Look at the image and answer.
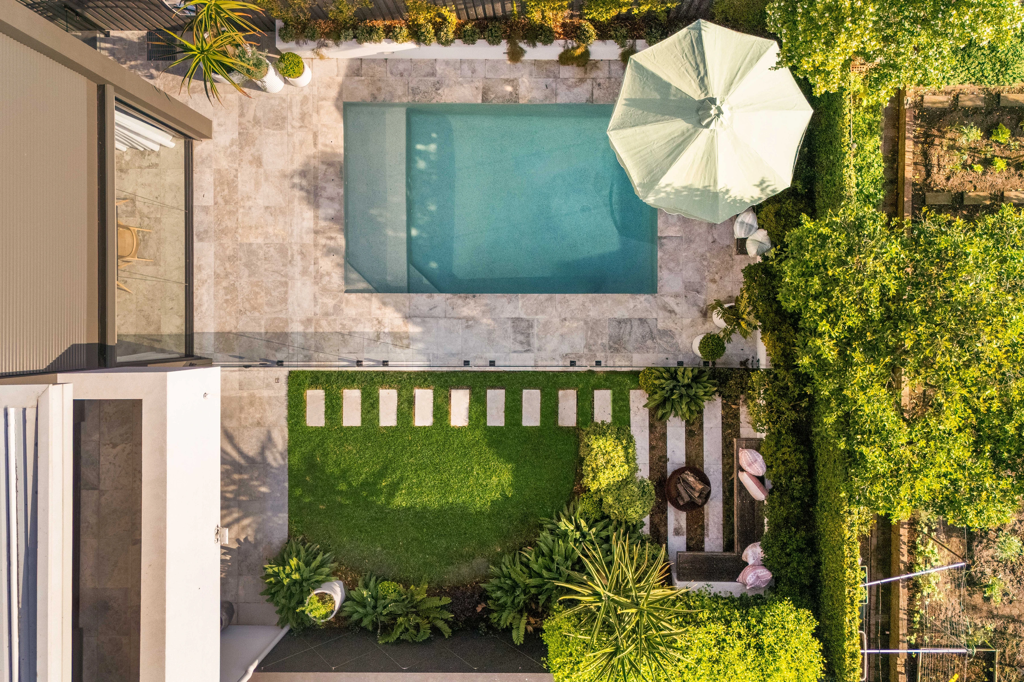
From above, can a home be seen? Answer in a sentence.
Yes, the image includes a home.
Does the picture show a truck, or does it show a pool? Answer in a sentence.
Visible in the photo is a pool.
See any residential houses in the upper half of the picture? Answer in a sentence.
Yes, a residential house shows up in the upper half of the picture.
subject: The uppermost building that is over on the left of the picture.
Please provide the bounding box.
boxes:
[0,0,212,382]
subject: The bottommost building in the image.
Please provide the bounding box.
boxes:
[0,367,221,682]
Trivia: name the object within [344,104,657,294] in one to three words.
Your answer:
swimming pool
